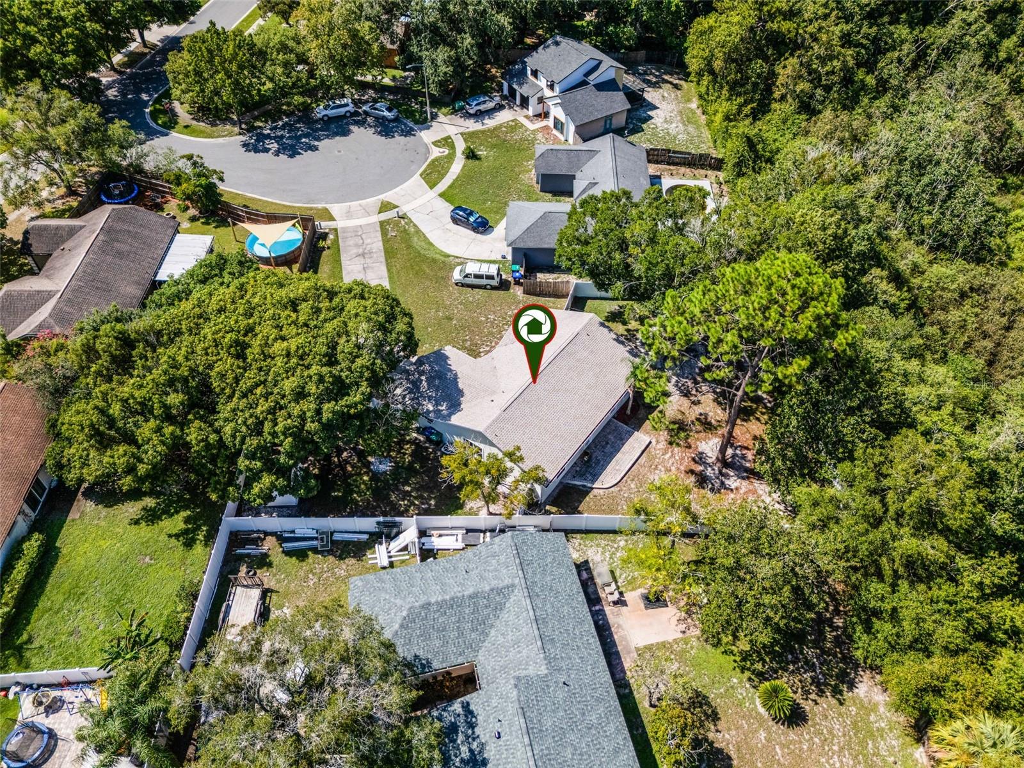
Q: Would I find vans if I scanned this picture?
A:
Yes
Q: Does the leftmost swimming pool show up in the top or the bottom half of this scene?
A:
top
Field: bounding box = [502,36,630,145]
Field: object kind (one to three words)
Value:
house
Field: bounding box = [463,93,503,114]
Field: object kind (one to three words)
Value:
car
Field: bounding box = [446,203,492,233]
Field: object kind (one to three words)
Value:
car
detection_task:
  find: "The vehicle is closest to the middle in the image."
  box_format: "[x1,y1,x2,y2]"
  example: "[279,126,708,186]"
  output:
[450,261,504,291]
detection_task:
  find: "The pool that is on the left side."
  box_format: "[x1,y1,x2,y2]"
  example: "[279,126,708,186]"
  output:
[244,224,306,272]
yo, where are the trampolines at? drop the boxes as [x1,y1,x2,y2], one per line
[0,709,57,768]
[92,168,142,205]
